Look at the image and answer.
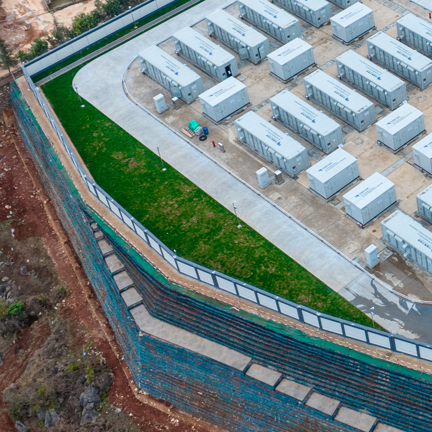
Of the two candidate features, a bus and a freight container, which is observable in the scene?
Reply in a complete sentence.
The one in the frame is a freight container.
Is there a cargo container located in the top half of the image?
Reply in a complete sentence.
Yes, a cargo container shows up in the top half of the image.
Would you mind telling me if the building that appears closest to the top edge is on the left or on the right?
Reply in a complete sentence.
It is on the right.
